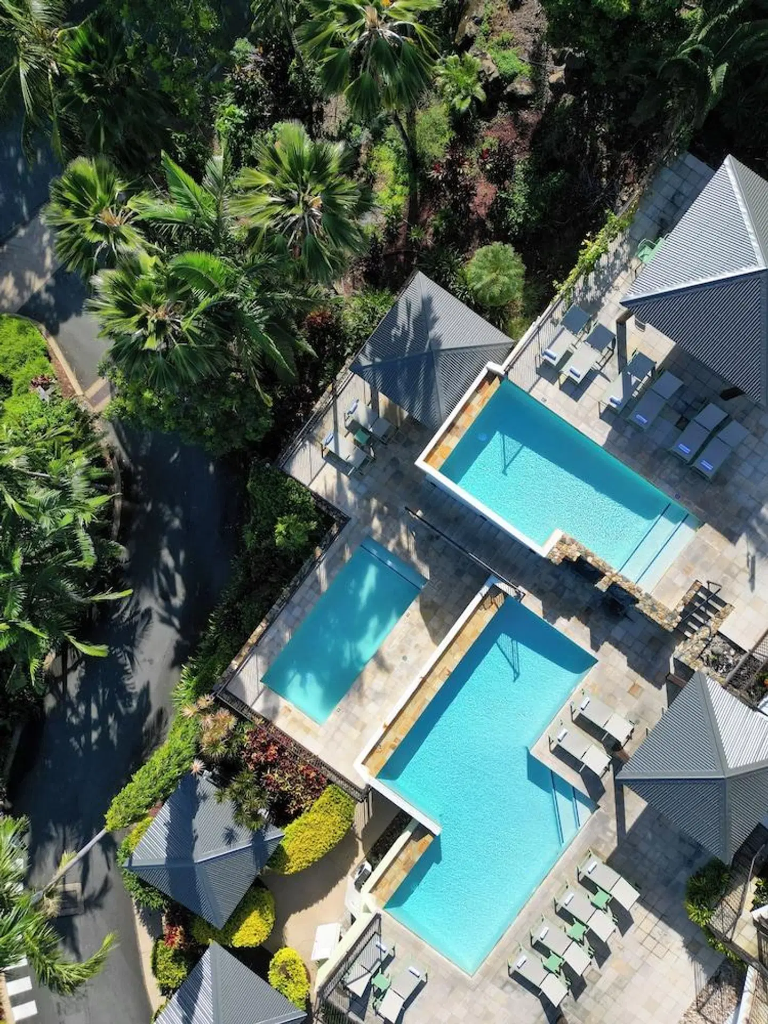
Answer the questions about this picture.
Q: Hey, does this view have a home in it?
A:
No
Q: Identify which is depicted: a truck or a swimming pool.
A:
swimming pool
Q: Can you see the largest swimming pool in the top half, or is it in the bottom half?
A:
bottom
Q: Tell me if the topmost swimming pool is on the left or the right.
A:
right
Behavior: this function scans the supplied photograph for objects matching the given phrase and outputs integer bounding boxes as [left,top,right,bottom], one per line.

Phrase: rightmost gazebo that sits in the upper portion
[618,152,768,408]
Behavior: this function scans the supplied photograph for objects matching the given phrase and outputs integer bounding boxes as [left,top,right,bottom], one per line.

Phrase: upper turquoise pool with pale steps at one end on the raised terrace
[413,364,700,593]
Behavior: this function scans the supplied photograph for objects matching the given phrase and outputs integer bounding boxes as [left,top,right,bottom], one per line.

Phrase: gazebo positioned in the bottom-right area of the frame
[609,669,768,864]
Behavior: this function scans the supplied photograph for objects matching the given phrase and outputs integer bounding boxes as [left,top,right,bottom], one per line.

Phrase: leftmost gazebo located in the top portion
[349,271,510,430]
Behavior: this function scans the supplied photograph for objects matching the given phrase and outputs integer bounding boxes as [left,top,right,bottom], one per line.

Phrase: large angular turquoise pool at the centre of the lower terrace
[354,574,600,978]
